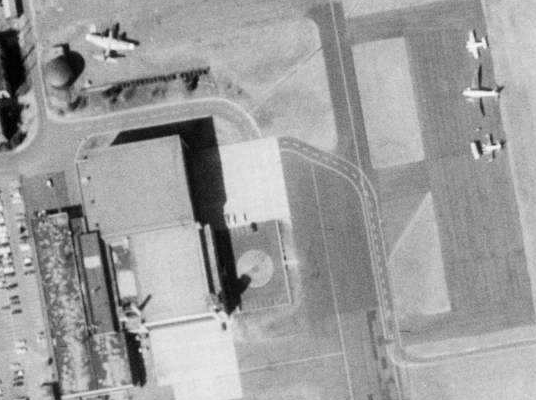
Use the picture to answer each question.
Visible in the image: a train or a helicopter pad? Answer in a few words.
helicopter pad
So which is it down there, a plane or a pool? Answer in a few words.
plane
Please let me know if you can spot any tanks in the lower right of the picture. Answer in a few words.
No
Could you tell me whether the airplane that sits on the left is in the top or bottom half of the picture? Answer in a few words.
top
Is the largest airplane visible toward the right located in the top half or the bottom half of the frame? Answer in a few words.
top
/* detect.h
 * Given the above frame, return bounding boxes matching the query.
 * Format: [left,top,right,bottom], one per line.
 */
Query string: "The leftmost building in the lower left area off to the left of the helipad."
[33,213,139,400]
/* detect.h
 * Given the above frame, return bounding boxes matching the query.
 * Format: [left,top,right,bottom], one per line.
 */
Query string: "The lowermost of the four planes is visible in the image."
[480,135,499,161]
